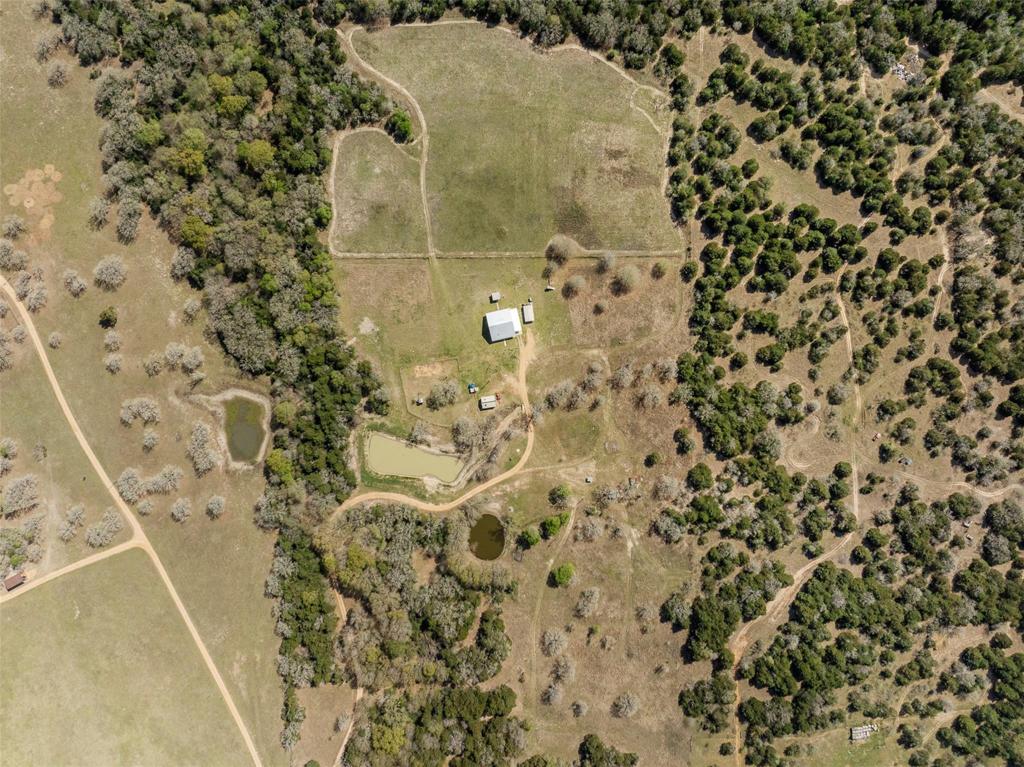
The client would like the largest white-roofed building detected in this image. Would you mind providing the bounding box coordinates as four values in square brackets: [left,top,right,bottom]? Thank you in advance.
[486,307,522,341]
